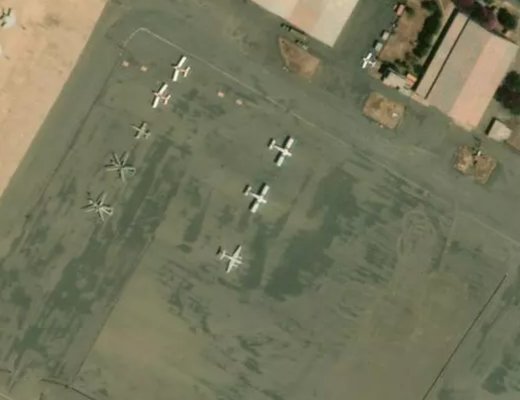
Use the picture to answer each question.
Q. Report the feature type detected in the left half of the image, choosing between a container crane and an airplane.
airplane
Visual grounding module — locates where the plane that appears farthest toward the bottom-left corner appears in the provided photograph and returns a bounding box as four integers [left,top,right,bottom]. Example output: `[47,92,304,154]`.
[219,245,243,273]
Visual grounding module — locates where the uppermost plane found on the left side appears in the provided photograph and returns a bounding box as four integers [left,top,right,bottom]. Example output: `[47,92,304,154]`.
[172,56,189,82]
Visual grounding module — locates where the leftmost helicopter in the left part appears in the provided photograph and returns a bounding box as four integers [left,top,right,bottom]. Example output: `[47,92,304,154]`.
[84,193,114,222]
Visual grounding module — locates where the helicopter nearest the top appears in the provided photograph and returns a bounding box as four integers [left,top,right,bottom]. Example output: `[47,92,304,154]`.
[106,153,136,182]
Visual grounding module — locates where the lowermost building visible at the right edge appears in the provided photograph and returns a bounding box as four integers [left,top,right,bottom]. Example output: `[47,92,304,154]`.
[489,119,512,142]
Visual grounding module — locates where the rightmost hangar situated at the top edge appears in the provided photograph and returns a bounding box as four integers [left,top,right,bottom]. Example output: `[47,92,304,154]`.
[416,11,518,131]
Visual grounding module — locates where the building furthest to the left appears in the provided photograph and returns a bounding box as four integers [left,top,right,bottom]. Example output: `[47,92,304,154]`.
[251,0,359,47]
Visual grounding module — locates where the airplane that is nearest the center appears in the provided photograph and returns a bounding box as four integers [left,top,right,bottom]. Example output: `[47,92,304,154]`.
[245,185,270,214]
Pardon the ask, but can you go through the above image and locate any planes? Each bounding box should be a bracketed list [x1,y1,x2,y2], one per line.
[245,185,270,214]
[363,54,375,68]
[172,56,189,82]
[132,122,151,139]
[219,245,243,273]
[271,137,294,167]
[153,84,170,109]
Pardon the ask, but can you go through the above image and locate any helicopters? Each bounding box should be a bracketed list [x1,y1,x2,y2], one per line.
[106,153,136,182]
[84,193,114,222]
